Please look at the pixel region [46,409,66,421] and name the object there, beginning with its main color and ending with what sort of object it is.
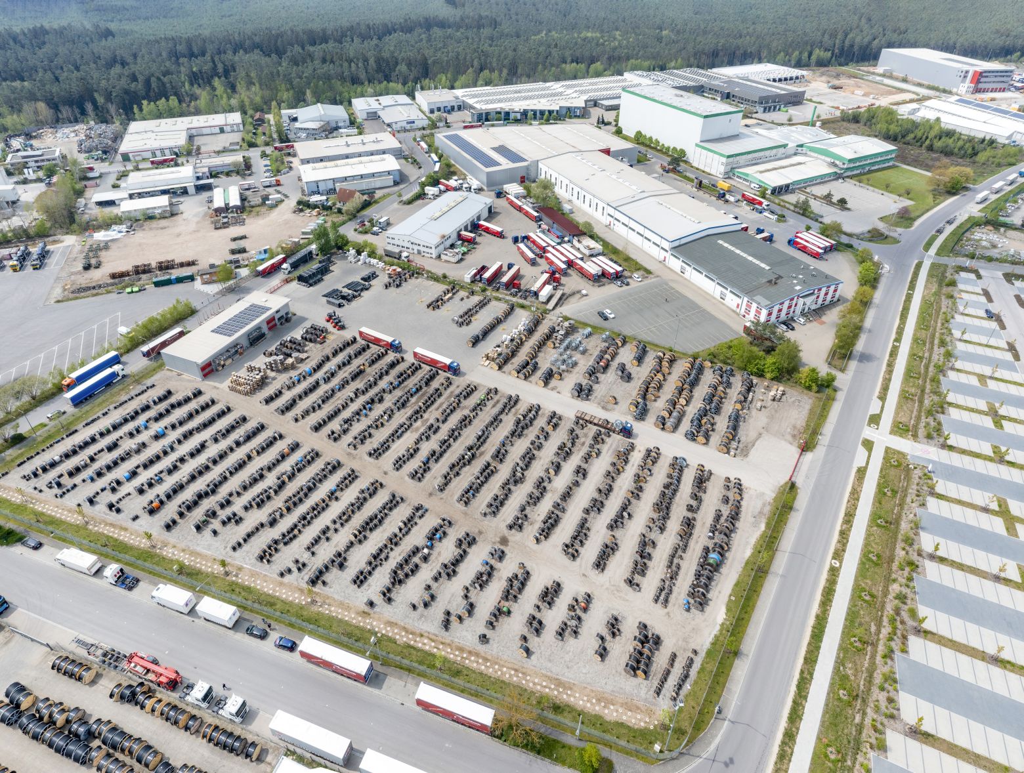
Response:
gray vehicle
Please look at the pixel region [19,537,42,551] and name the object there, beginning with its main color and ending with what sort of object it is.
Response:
gray car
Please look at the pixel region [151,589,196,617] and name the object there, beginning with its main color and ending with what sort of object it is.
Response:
white truck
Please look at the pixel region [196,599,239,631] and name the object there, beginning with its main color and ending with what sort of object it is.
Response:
white trailer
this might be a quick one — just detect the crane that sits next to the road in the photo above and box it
[122,650,186,691]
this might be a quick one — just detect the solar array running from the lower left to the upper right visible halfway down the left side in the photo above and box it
[208,305,267,338]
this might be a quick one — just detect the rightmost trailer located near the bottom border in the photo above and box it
[415,683,496,735]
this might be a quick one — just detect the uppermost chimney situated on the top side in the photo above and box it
[808,97,820,126]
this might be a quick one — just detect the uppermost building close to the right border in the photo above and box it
[876,47,1006,92]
